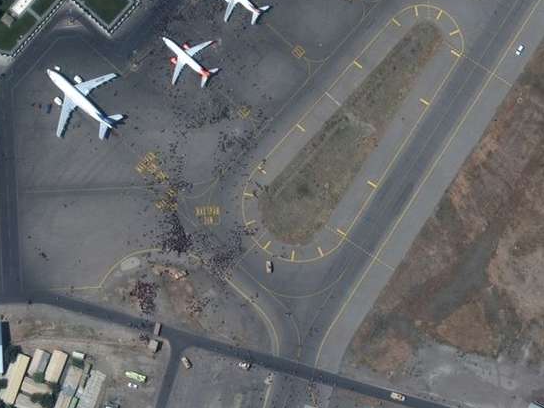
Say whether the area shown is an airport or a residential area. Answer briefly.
airport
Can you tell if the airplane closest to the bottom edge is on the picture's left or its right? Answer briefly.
left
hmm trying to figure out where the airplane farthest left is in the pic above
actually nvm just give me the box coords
[47,69,126,139]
